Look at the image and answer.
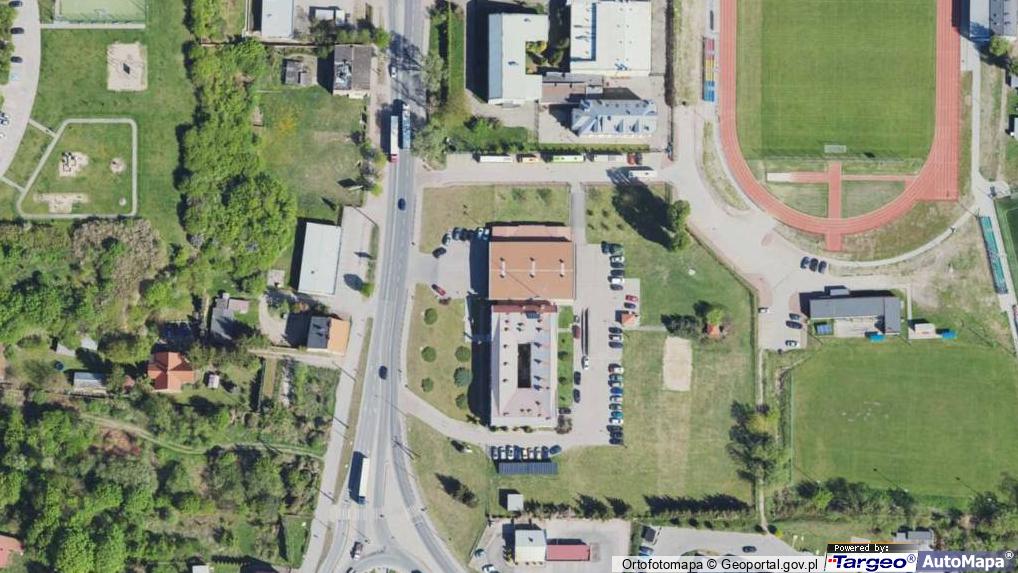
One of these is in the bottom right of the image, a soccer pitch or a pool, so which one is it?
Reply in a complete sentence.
Looking in the bottom right of the image, you will find a soccer pitch.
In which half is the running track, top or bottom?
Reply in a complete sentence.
It is in the top half that the running track appears.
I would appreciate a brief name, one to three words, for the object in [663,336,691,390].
sports court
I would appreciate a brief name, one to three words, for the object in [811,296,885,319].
building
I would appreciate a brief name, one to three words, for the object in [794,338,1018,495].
soccer field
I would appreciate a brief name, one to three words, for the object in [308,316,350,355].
house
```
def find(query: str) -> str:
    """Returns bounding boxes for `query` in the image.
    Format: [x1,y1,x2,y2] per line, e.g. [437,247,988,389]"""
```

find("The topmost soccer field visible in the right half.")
[762,0,934,157]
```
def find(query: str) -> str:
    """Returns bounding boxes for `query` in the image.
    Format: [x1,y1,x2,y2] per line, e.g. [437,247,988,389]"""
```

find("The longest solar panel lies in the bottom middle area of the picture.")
[498,463,558,476]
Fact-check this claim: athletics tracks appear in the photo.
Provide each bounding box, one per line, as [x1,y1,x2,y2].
[720,0,960,250]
